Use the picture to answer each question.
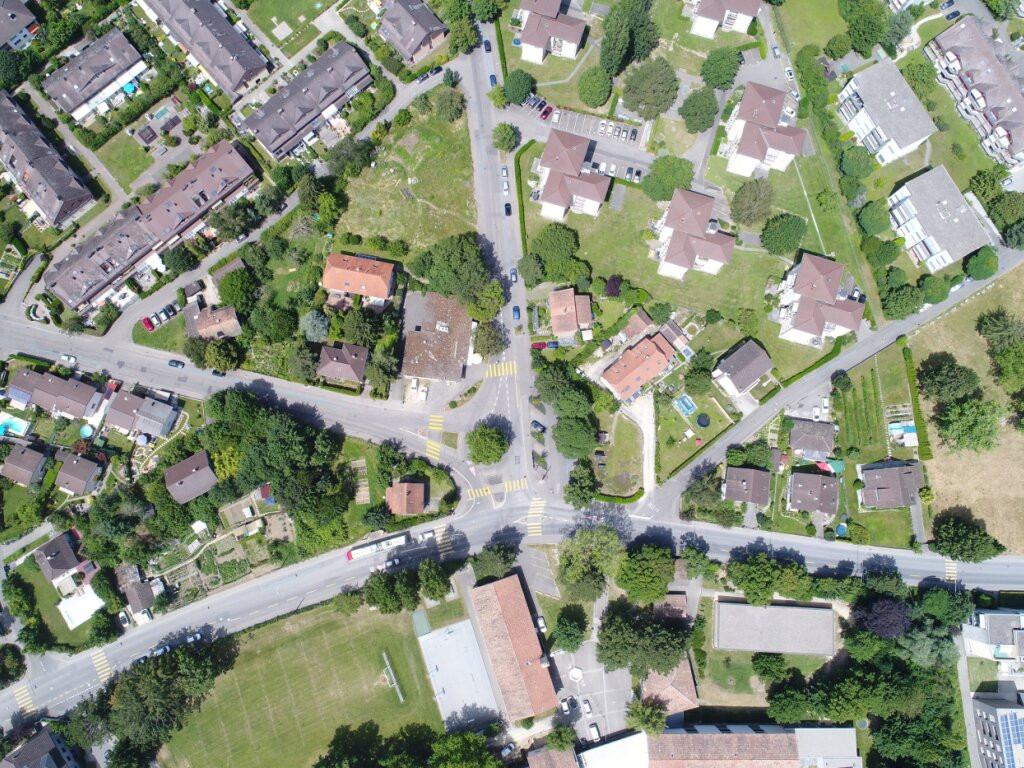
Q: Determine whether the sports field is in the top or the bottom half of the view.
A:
bottom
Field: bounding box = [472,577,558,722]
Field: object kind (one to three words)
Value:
building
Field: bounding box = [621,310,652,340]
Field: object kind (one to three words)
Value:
shed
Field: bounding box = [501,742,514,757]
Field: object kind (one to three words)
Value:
vehicle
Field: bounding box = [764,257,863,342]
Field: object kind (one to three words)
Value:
house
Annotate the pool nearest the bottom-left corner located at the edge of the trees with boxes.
[66,584,102,613]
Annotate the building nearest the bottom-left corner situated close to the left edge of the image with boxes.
[1,727,79,768]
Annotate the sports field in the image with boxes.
[161,601,444,768]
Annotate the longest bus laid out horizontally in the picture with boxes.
[346,536,411,560]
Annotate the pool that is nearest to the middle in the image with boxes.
[675,394,697,415]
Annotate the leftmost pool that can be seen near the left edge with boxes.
[0,412,31,435]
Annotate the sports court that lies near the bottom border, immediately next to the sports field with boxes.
[418,620,504,735]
